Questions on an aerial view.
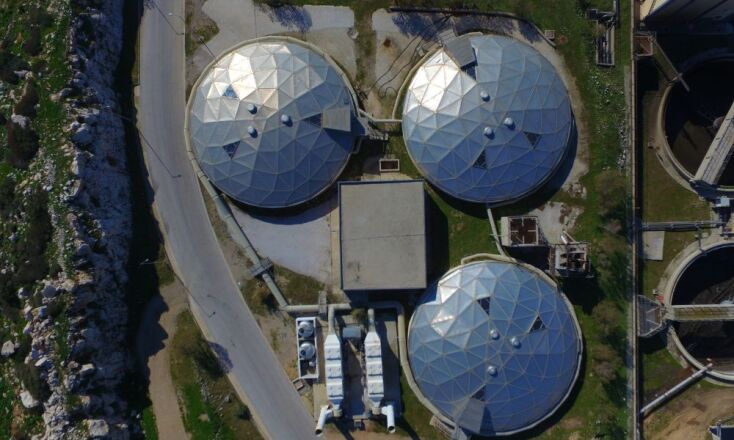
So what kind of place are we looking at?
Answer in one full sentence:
What you see here is an industrial area.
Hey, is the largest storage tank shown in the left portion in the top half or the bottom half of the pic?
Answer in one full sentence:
You can find the largest storage tank shown in the left portion in the top half.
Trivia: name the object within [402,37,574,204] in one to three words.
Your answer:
storage tank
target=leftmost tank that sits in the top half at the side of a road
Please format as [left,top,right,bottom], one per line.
[190,44,356,209]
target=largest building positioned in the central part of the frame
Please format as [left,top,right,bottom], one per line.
[340,181,426,292]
